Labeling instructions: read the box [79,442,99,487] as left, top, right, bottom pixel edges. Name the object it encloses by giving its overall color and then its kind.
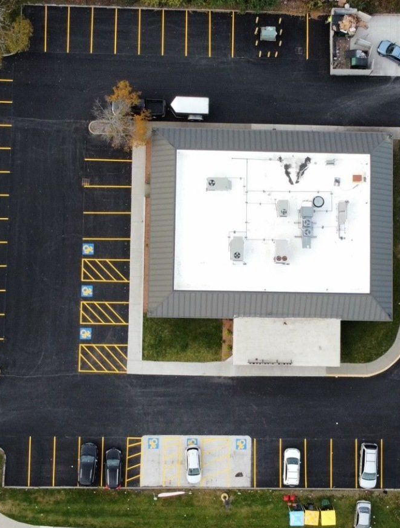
black car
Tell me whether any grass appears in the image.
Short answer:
Yes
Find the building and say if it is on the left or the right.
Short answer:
right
